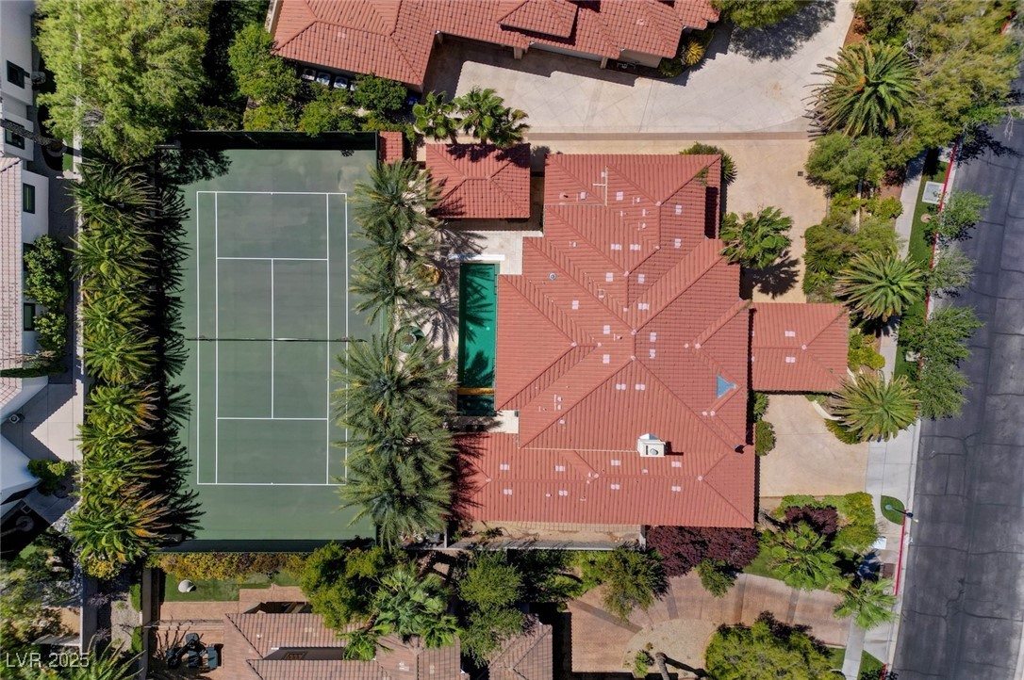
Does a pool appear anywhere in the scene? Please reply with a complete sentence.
Yes, the frame does contain a pool.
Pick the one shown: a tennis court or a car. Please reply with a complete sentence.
This aerial view contains a tennis court.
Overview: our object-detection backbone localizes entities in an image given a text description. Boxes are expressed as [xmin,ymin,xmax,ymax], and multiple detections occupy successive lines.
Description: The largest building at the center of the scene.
[454,151,756,528]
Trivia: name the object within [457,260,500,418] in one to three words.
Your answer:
swimming pool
